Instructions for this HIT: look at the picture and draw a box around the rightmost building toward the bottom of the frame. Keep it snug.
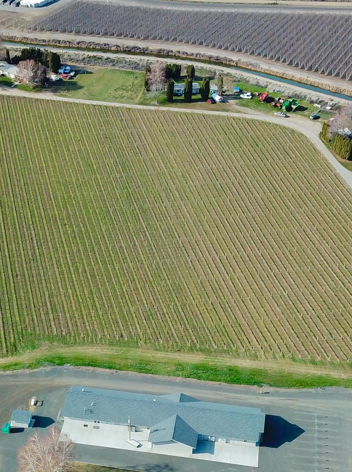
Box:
[63,386,269,456]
